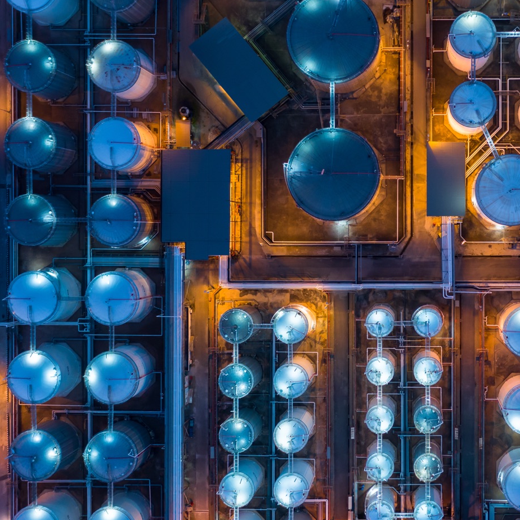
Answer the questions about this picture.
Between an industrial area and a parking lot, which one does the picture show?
industrial area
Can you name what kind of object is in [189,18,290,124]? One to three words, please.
building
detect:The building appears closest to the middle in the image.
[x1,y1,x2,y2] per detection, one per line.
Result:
[162,150,234,259]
